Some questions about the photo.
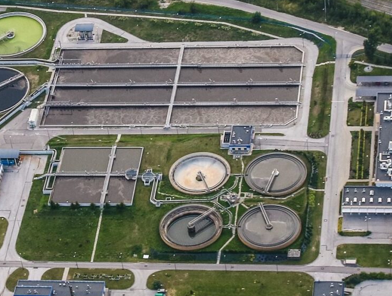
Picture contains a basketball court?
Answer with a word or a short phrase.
No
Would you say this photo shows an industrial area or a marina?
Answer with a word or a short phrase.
industrial area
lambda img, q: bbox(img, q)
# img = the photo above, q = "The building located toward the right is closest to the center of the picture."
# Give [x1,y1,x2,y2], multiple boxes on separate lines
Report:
[229,125,254,153]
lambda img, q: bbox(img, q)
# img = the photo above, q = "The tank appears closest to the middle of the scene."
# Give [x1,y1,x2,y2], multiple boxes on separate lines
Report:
[168,152,232,197]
